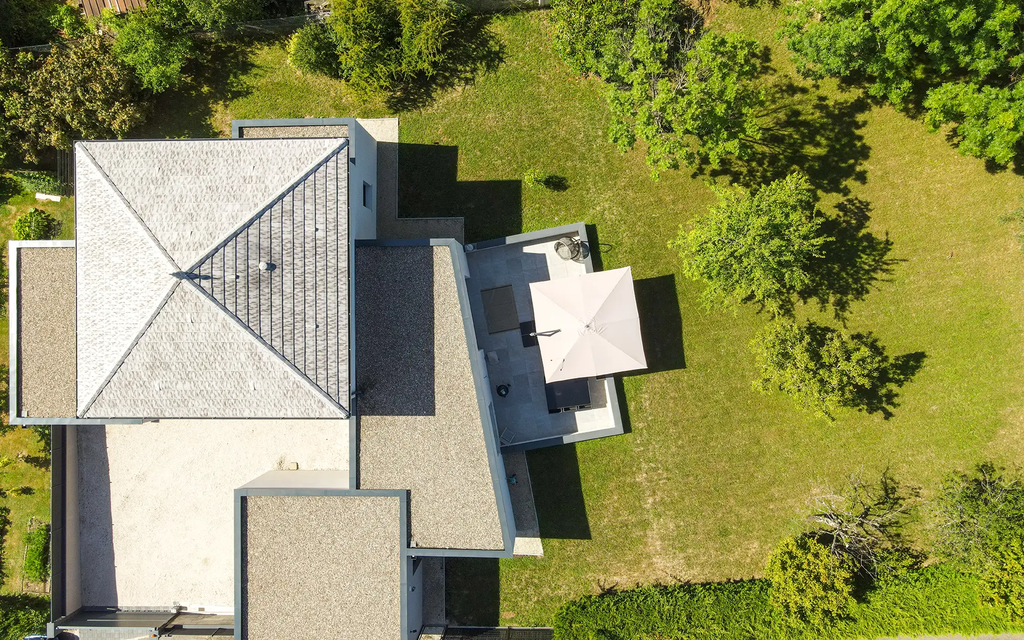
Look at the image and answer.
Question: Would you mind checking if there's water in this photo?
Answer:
No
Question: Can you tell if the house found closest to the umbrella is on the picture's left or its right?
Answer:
left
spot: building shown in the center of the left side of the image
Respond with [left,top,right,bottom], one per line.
[9,118,516,640]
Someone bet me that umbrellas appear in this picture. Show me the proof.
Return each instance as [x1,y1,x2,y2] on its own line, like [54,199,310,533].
[518,266,647,383]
